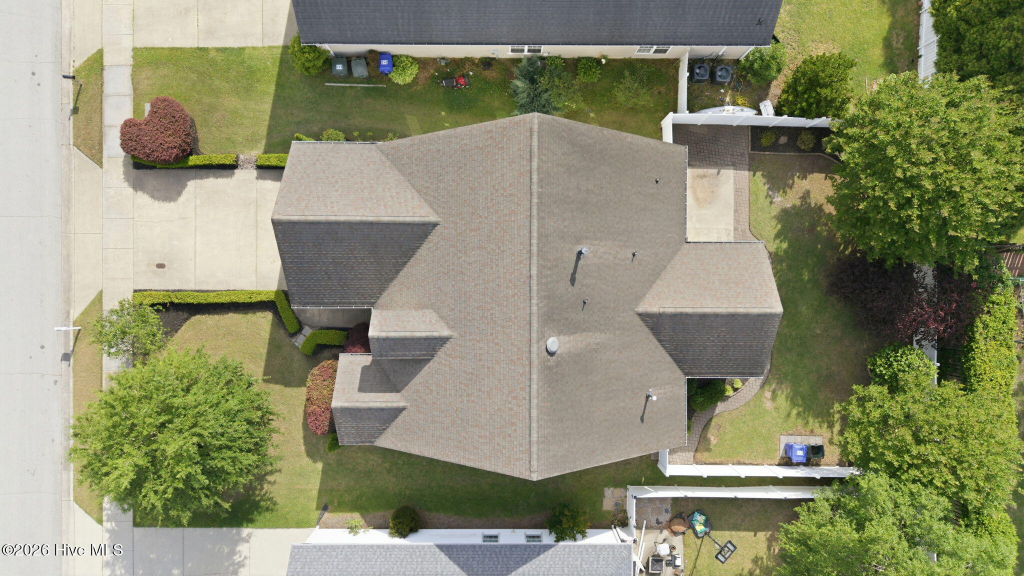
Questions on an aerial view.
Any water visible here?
No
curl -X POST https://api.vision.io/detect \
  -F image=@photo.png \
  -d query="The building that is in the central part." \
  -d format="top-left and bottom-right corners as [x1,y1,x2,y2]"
[271,107,784,480]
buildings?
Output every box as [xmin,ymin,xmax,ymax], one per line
[293,0,784,60]
[286,527,634,576]
[271,107,784,480]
